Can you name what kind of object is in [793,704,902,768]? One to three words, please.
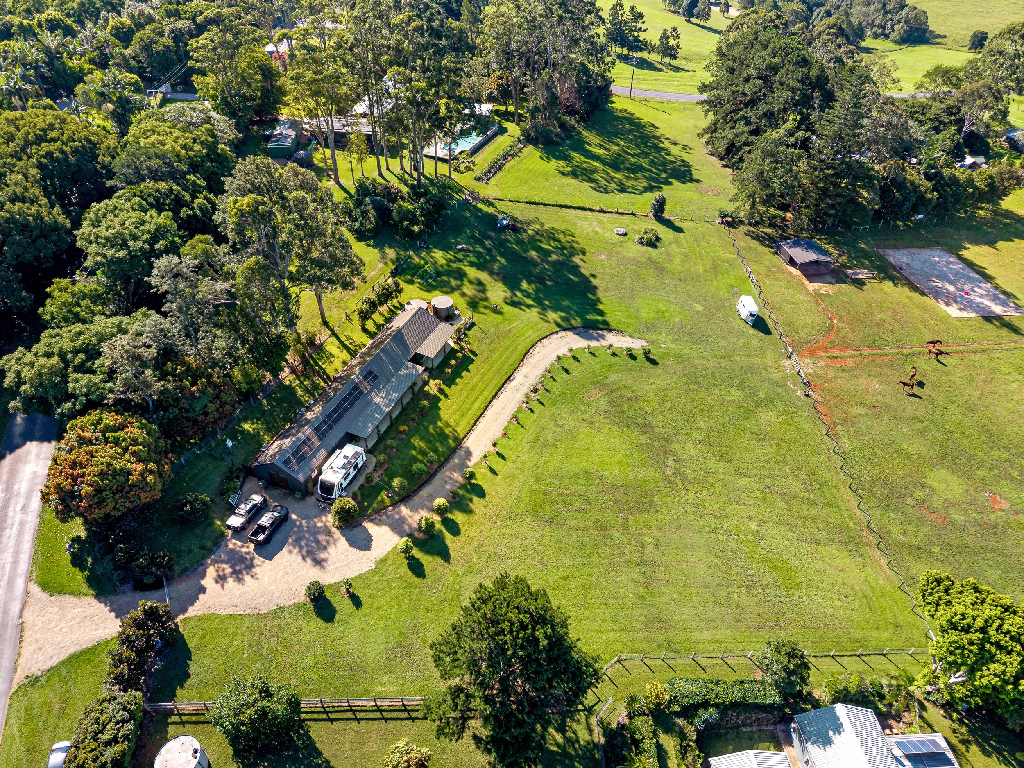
house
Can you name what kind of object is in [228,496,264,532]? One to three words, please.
truck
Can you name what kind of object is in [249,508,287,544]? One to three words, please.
truck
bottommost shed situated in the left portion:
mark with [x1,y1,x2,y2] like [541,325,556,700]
[253,308,460,493]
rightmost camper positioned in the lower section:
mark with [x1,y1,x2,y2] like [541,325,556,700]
[320,443,366,500]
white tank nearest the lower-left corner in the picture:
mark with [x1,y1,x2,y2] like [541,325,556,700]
[153,738,207,768]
